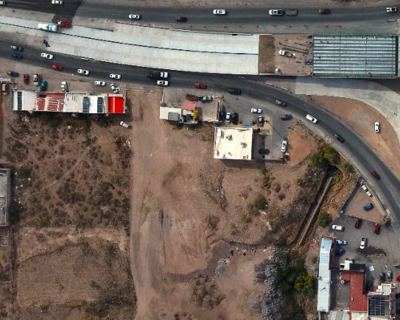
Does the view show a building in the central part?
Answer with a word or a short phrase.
Yes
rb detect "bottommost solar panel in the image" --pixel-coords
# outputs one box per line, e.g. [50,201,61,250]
[369,297,384,317]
